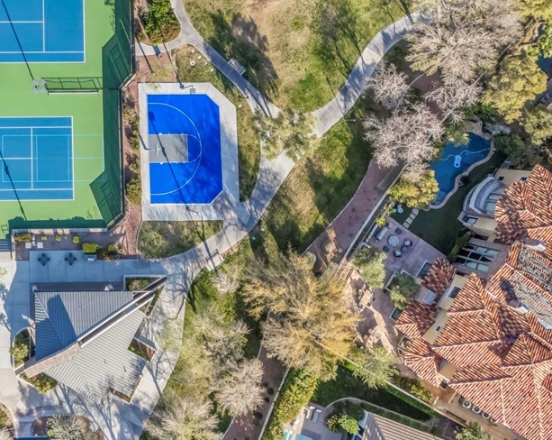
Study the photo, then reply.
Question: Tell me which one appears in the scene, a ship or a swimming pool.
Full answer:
Visible in the photo is a swimming pool.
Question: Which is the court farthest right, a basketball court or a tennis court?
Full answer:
Looking closely, the court farthest right is a basketball court.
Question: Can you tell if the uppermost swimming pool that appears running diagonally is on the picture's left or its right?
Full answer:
The uppermost swimming pool that appears running diagonally is on the right side of the image.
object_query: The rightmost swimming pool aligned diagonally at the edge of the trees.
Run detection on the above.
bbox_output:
[424,129,496,210]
